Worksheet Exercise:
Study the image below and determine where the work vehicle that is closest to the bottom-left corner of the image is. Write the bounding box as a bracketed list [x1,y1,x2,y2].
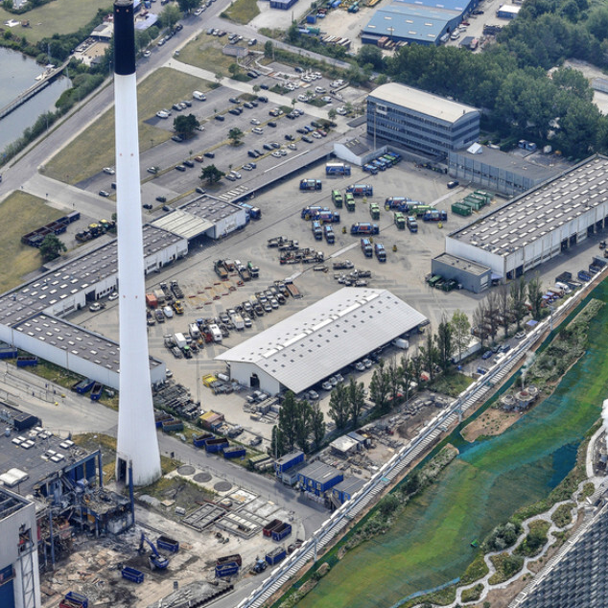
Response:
[142,525,170,569]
